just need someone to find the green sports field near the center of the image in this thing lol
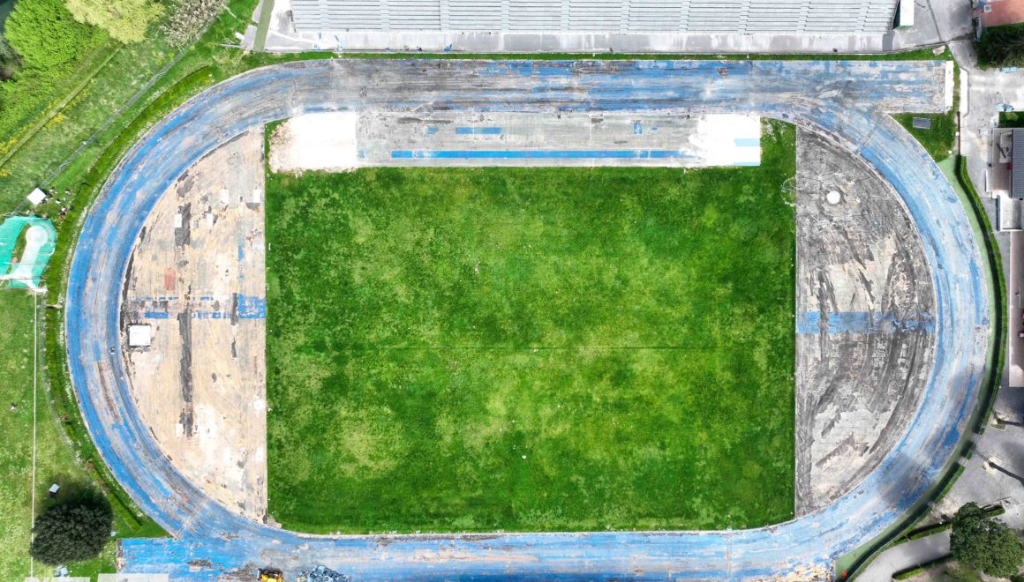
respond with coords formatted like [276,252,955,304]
[266,118,795,532]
